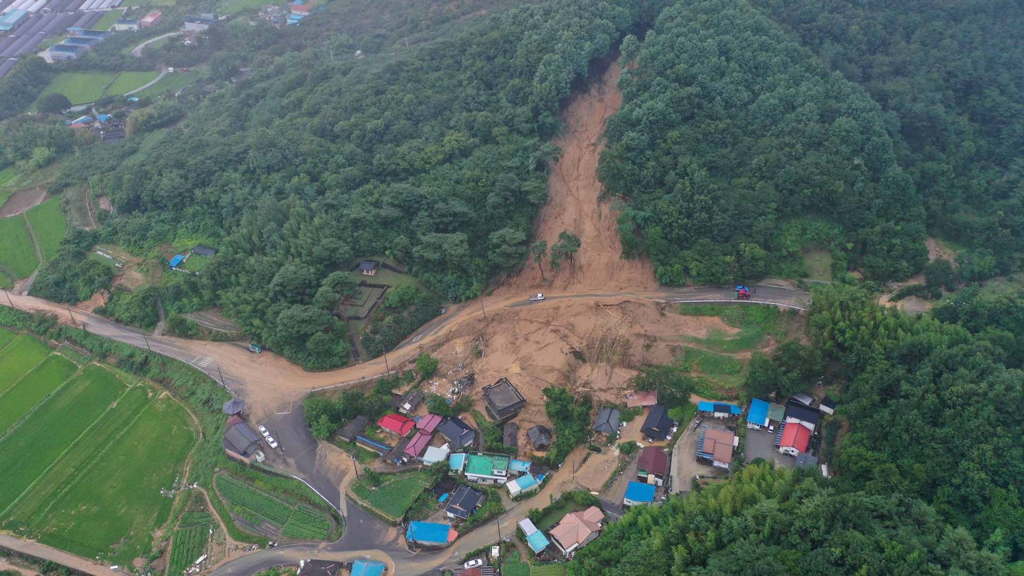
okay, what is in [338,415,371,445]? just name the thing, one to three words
shed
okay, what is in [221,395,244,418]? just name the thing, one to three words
building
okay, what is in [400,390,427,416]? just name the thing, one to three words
house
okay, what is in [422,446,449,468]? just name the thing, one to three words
shed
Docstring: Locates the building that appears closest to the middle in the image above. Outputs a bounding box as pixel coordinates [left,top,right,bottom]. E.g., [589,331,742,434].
[482,376,525,419]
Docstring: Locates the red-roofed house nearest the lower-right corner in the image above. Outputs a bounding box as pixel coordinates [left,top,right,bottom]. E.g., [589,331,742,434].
[772,422,810,458]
